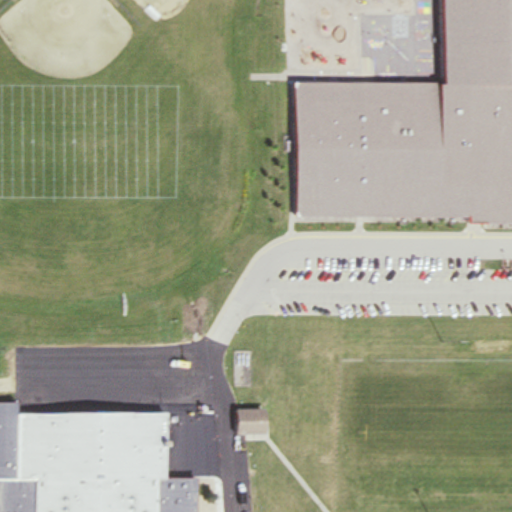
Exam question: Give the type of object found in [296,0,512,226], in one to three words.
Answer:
building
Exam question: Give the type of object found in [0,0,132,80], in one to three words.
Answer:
baseball field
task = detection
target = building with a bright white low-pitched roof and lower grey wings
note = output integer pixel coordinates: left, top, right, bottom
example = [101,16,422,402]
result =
[0,402,198,512]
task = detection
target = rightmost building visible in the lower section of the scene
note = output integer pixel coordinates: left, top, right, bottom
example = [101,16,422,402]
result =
[238,409,269,435]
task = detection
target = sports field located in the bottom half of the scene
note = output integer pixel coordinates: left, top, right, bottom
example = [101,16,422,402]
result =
[341,359,512,512]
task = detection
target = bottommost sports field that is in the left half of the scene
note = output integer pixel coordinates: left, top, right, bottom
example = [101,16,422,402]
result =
[0,85,179,201]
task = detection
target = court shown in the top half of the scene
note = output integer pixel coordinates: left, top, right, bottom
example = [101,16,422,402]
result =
[360,1,440,78]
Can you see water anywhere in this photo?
No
